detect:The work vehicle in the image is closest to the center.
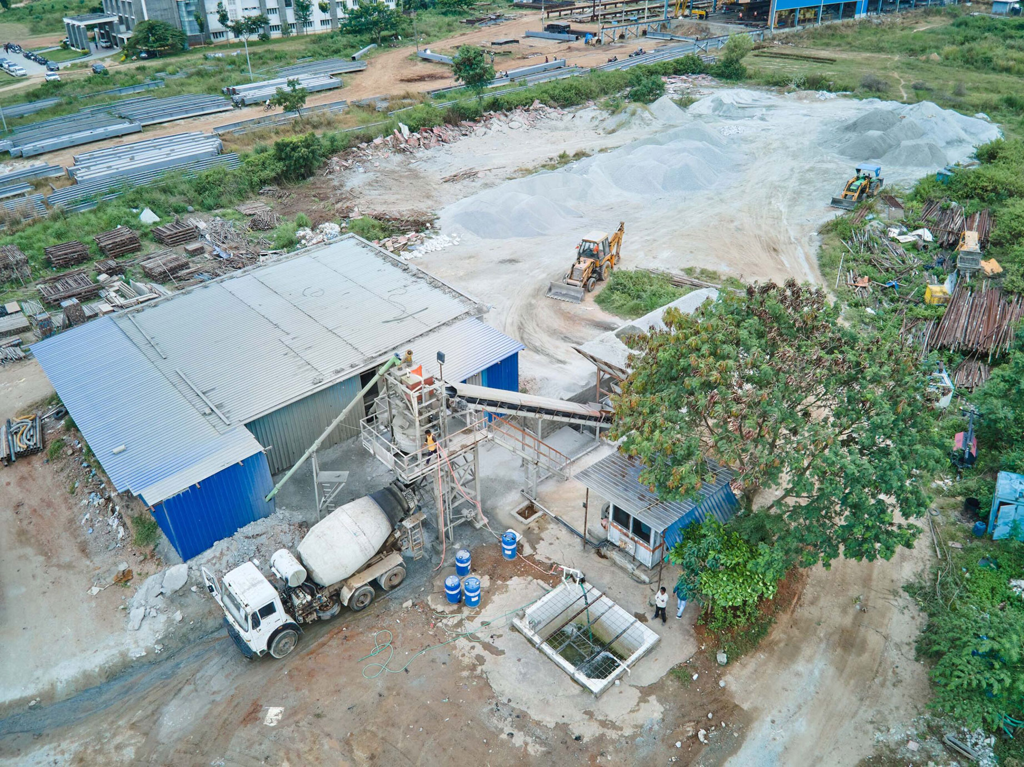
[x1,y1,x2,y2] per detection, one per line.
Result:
[553,215,613,302]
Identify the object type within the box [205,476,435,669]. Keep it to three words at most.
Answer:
truck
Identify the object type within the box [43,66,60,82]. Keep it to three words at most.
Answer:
car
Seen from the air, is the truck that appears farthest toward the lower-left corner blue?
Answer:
No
